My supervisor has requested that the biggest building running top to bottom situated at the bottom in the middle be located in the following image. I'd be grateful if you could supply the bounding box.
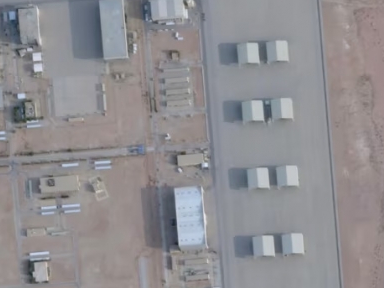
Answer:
[175,186,209,250]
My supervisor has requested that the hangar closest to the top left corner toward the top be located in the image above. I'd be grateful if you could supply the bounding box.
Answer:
[19,8,41,46]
